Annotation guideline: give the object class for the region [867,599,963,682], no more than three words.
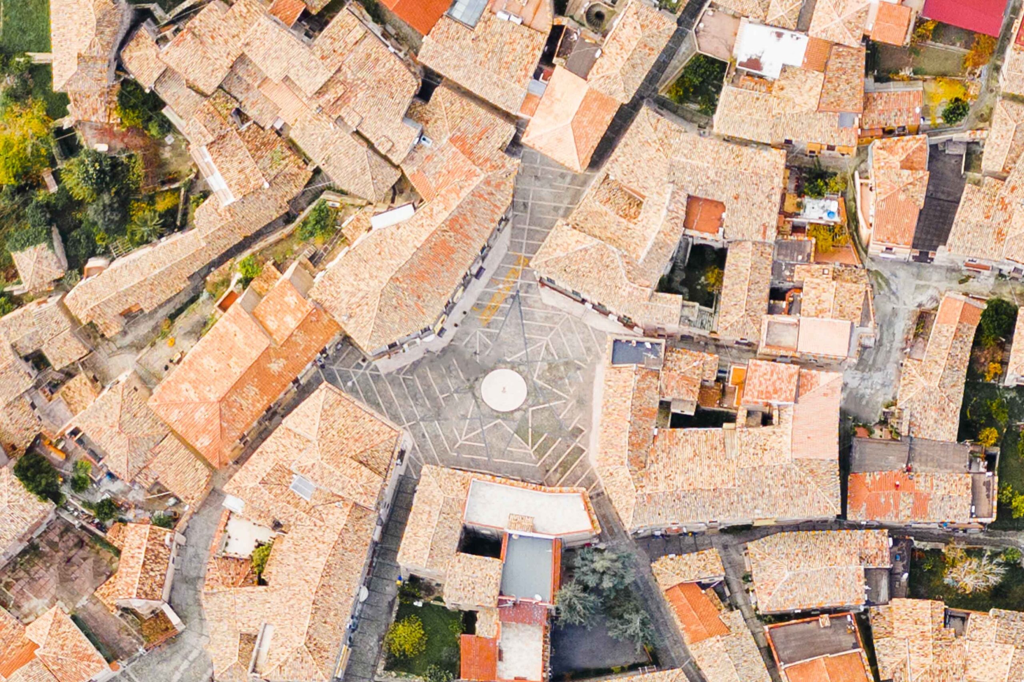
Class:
house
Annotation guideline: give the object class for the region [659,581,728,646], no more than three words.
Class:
house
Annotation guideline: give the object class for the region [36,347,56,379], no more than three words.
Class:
building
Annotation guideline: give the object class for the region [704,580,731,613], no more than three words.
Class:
building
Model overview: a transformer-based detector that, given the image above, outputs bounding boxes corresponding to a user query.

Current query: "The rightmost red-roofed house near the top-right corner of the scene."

[918,0,1008,46]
